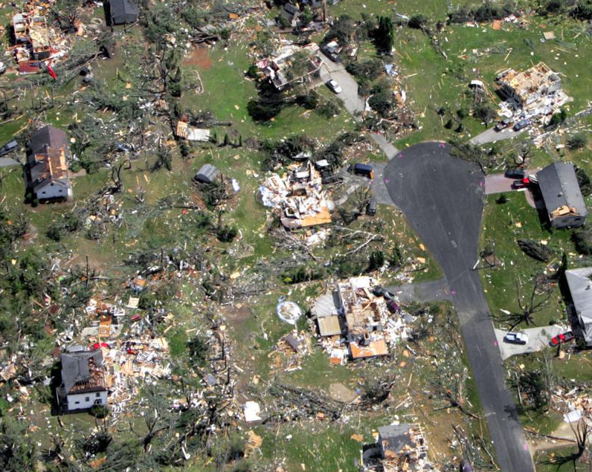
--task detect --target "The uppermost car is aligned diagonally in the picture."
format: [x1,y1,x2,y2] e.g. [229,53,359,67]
[325,43,342,60]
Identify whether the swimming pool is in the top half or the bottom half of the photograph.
bottom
